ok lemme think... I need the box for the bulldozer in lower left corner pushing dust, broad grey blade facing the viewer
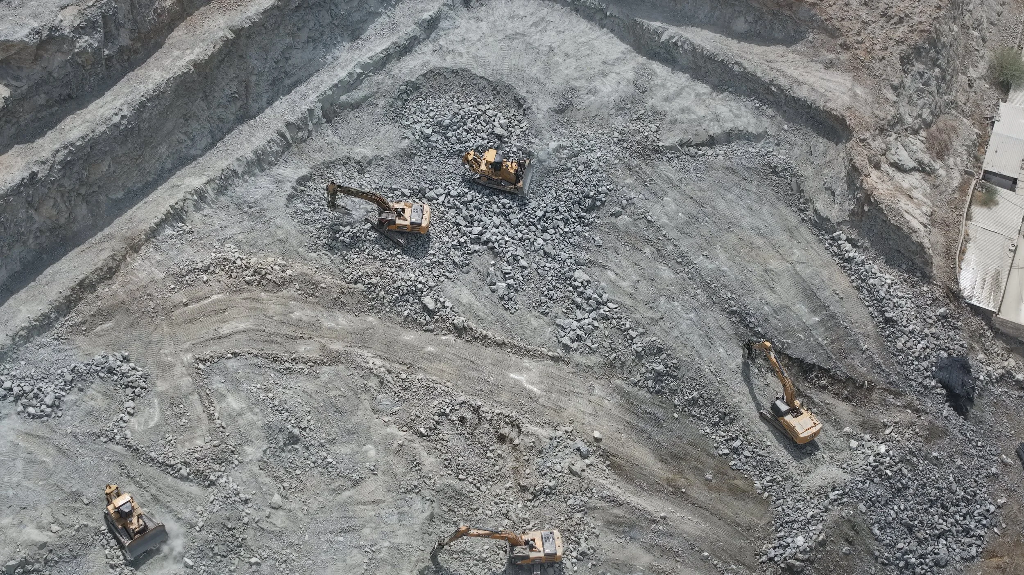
[100,486,161,567]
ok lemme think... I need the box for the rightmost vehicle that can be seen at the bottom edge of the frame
[430,520,563,575]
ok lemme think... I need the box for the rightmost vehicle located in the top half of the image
[462,147,533,198]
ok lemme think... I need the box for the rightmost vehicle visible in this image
[744,338,826,444]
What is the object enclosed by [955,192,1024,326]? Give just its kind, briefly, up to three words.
shed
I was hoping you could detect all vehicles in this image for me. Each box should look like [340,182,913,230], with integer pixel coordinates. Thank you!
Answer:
[323,176,430,243]
[462,147,533,198]
[744,338,826,444]
[430,520,563,575]
[100,486,161,567]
